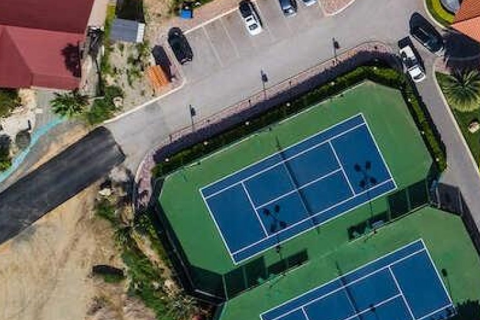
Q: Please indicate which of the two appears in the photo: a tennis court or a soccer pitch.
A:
tennis court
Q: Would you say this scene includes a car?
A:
Yes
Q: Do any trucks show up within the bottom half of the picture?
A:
No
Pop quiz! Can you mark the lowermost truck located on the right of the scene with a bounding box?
[399,43,426,83]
